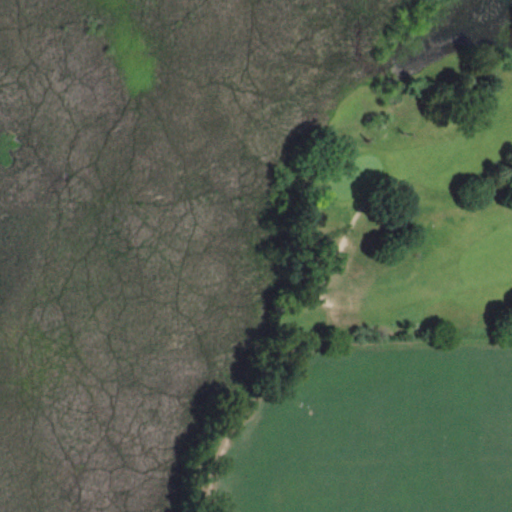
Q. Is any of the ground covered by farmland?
Yes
